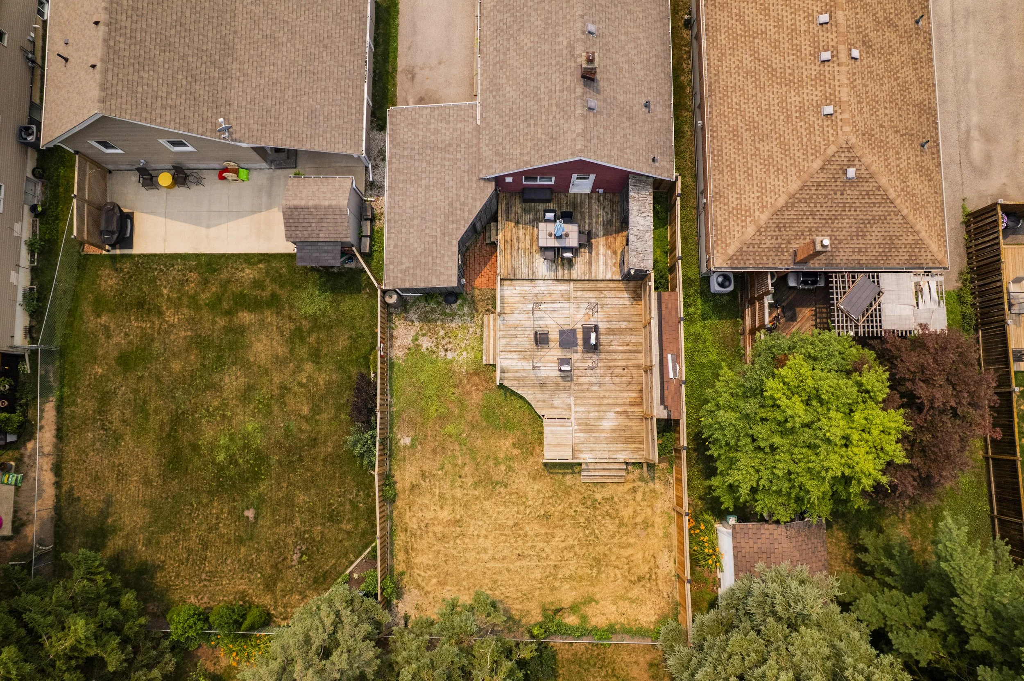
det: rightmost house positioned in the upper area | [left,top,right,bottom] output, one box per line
[690,0,953,276]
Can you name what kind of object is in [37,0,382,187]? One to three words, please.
house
